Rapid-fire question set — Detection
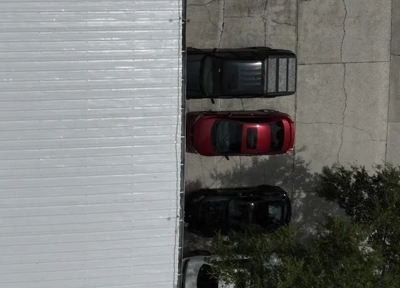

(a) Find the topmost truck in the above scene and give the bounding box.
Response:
[186,43,296,105]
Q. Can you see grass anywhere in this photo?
No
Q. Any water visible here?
No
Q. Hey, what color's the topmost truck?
black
